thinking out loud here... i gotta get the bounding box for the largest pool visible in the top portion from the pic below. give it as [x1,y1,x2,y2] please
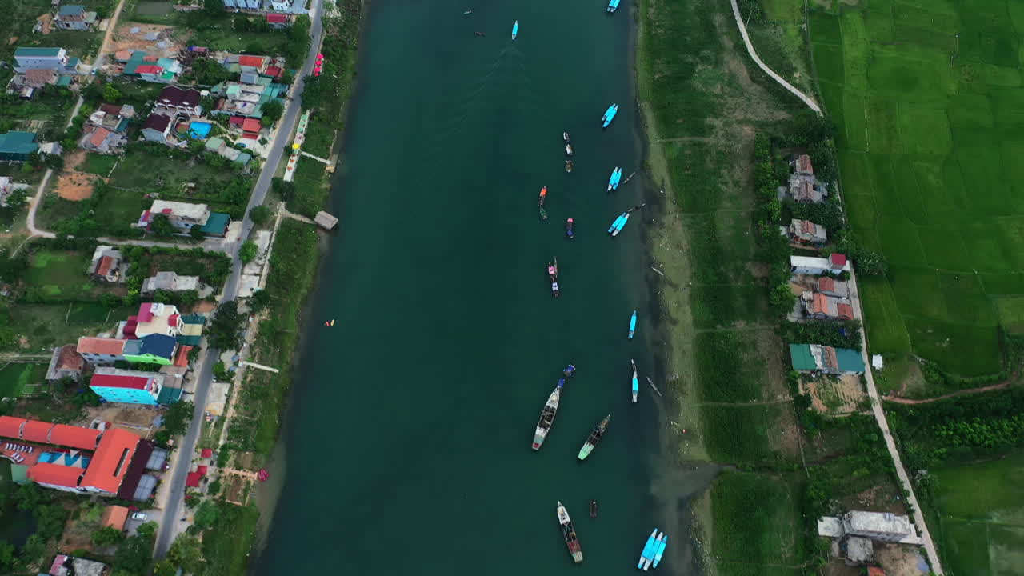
[188,121,213,140]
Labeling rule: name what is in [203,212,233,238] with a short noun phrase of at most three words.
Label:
shed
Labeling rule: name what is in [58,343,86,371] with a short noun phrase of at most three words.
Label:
house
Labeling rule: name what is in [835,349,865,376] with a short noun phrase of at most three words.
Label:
barn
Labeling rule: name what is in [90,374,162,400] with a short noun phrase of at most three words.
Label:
building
